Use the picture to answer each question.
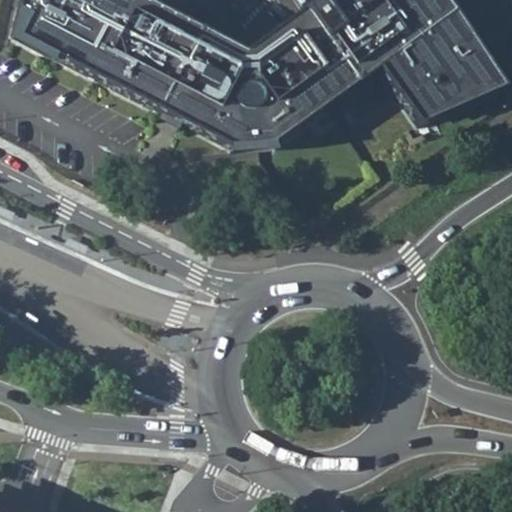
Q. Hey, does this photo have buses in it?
Yes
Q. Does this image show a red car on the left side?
Yes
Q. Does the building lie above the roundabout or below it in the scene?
above it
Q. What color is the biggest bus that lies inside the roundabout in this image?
white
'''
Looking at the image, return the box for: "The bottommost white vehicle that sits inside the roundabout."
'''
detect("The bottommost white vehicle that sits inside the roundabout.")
[240,432,359,472]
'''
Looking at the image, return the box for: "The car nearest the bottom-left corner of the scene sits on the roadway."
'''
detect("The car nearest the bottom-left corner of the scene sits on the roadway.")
[7,390,30,405]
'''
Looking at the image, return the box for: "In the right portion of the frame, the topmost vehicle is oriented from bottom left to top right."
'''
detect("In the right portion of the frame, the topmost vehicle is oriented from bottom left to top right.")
[435,226,457,244]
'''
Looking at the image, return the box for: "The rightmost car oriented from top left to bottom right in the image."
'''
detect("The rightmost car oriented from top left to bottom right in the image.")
[348,282,370,300]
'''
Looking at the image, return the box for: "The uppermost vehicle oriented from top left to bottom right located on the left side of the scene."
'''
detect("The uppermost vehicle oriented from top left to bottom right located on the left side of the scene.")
[4,152,26,170]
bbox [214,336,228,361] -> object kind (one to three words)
car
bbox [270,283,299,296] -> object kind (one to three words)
vehicle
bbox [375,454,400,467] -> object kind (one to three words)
vehicle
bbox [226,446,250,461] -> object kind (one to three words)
car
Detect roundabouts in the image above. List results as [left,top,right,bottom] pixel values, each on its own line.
[186,264,431,496]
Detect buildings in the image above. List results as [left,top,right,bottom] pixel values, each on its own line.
[16,0,508,149]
